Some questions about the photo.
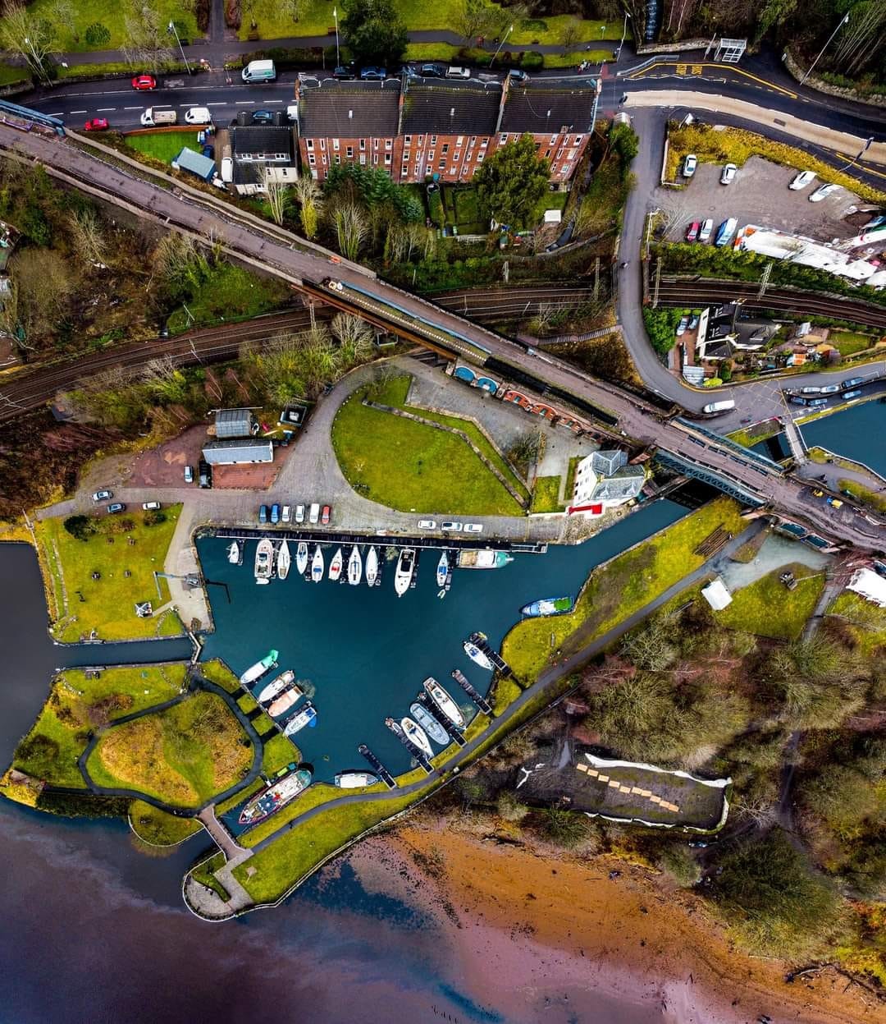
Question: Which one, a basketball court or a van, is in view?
van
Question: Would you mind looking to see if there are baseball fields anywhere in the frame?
No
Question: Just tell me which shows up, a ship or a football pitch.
ship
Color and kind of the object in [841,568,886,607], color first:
white tent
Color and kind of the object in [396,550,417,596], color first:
white boat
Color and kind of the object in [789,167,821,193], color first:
white car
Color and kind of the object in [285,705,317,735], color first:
white boat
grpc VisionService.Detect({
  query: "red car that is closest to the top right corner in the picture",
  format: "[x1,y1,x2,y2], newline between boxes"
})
[686,221,700,241]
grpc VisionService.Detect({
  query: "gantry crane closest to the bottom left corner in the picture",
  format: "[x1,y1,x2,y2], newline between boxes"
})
[153,569,200,601]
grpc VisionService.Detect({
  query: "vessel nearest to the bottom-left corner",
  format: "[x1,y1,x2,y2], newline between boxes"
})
[239,766,312,833]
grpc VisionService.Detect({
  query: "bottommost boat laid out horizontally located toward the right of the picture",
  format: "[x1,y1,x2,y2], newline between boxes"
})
[520,598,573,615]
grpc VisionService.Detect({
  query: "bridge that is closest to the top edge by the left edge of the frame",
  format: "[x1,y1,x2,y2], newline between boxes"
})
[0,98,70,139]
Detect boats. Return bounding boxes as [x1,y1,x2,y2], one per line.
[396,550,417,596]
[423,676,465,727]
[437,552,448,586]
[254,540,275,578]
[347,545,363,584]
[364,546,379,585]
[311,546,324,582]
[458,550,512,568]
[463,640,493,668]
[401,715,433,757]
[275,540,292,579]
[285,705,317,735]
[254,579,269,584]
[335,772,376,788]
[520,598,573,615]
[410,700,447,744]
[259,668,296,702]
[295,542,308,575]
[241,652,275,684]
[306,715,317,730]
[270,685,303,715]
[230,541,239,565]
[329,549,343,580]
[390,718,400,731]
